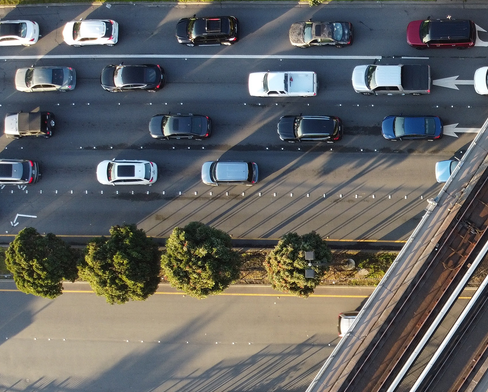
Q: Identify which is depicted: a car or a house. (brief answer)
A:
car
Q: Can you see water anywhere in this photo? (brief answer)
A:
No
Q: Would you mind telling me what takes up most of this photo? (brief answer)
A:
paved ground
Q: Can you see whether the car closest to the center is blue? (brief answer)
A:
Yes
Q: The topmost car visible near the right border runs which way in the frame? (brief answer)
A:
from side to side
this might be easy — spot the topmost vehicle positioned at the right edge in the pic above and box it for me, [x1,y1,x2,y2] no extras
[407,17,477,49]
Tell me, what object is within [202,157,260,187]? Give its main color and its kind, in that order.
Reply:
blue car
